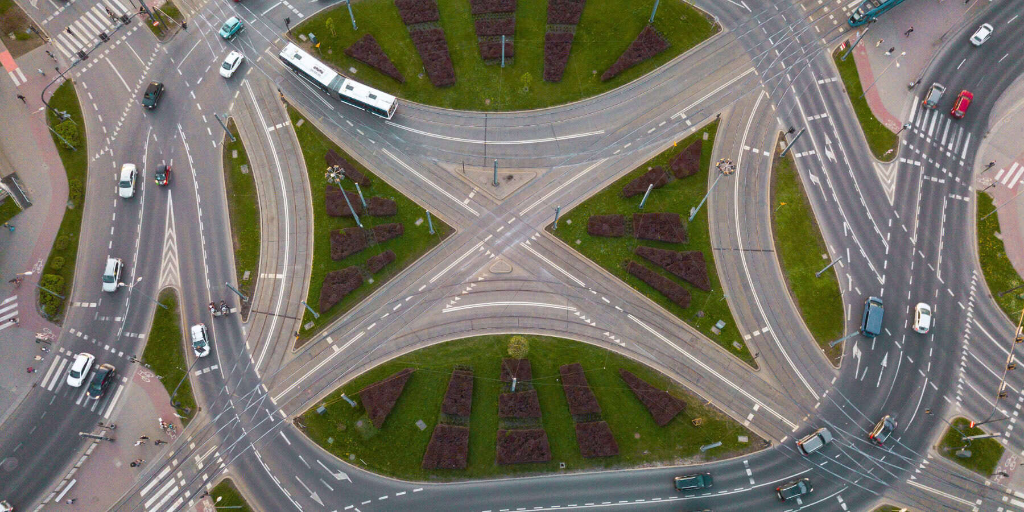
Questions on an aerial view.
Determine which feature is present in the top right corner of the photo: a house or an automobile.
automobile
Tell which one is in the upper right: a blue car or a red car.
red car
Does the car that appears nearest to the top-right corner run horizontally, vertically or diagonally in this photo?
diagonally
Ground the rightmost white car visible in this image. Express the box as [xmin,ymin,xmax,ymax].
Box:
[969,20,994,48]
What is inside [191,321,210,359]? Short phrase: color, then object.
white car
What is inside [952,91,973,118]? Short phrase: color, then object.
red car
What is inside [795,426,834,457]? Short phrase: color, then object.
gray car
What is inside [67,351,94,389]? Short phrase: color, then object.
white car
